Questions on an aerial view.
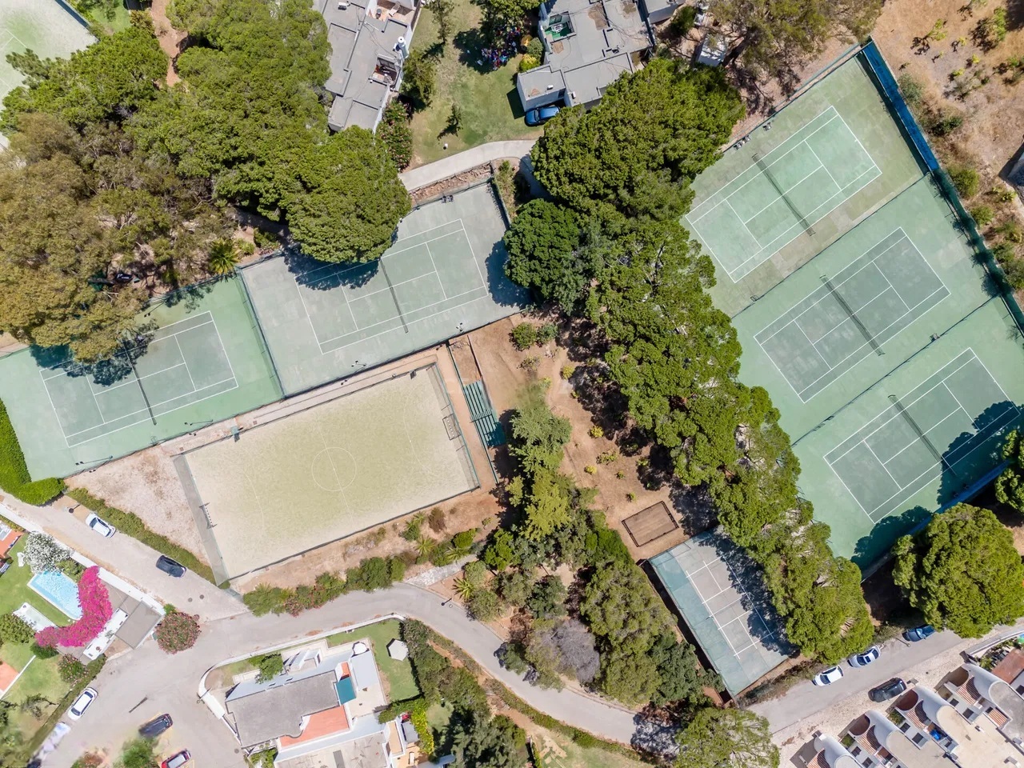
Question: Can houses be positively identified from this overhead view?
Yes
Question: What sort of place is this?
sports ground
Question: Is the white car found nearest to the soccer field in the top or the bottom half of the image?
bottom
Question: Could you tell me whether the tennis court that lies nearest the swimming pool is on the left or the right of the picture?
left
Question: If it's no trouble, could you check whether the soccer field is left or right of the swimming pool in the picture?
to the right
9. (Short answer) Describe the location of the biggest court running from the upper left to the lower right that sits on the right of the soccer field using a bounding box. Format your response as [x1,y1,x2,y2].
[647,524,792,695]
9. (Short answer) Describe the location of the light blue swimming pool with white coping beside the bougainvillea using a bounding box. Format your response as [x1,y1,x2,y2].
[25,569,85,621]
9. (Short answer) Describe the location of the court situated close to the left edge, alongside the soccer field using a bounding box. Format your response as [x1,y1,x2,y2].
[0,271,283,486]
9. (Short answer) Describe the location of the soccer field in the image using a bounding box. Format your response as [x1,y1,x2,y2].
[175,364,480,585]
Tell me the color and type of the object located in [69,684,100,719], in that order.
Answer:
white car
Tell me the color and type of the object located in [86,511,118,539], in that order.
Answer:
white car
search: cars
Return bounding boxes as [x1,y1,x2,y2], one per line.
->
[845,643,883,669]
[161,746,193,768]
[811,664,844,687]
[900,620,937,644]
[44,718,76,753]
[69,684,100,719]
[526,106,559,127]
[155,552,188,580]
[86,511,118,539]
[867,675,907,702]
[139,709,177,738]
